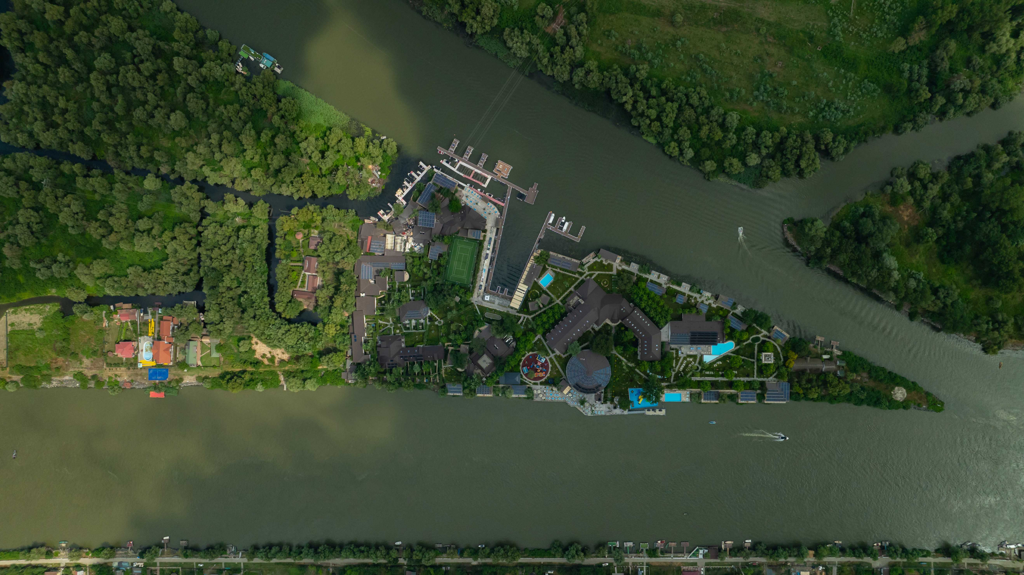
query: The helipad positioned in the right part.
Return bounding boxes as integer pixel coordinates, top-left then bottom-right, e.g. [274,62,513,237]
[893,387,908,402]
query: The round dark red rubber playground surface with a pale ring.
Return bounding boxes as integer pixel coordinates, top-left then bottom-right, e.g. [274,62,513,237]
[522,353,550,381]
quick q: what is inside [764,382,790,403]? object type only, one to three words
house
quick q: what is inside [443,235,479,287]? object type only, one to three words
tennis court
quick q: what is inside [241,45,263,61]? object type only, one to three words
ship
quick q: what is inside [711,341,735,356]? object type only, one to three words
swimming pool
